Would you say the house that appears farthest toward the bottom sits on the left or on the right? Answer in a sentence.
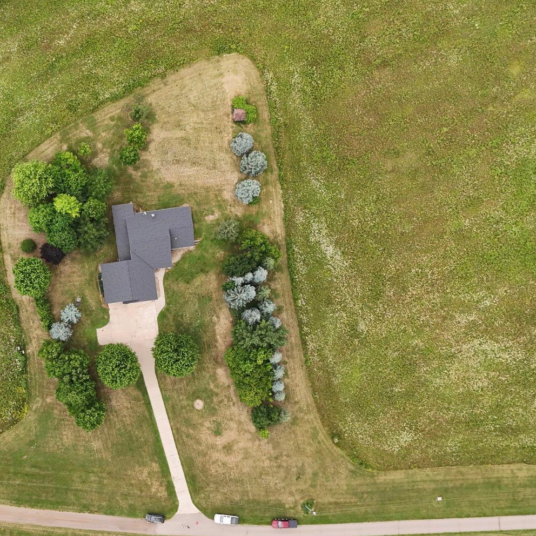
You can find the house that appears farthest toward the bottom on the left side of the picture.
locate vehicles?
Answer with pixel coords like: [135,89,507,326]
[271,519,297,527]
[145,513,164,523]
[214,514,239,524]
